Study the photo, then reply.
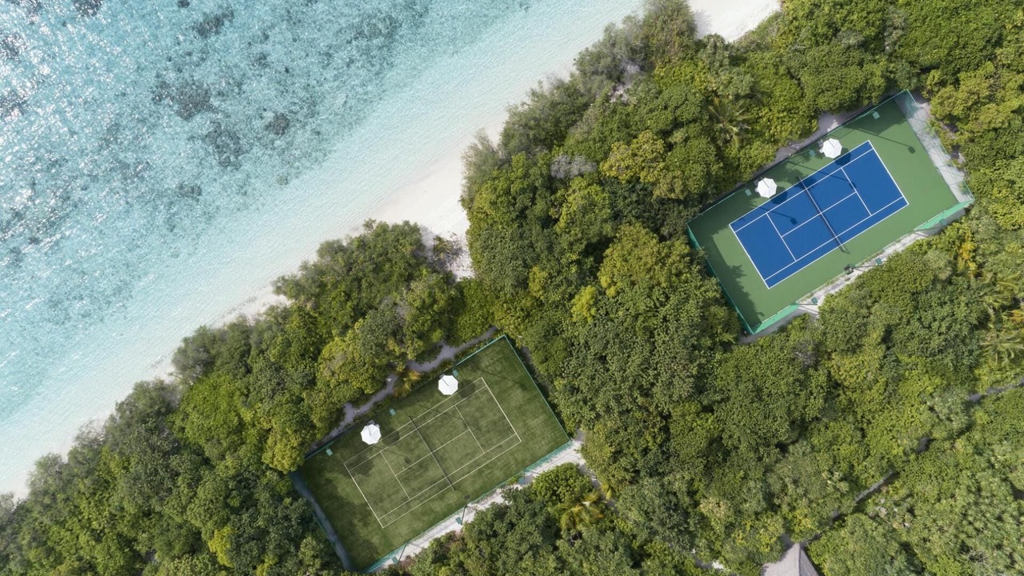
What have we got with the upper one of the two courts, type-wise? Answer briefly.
tennis court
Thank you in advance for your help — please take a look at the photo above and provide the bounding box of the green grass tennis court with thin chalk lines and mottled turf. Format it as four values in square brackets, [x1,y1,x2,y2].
[294,334,570,570]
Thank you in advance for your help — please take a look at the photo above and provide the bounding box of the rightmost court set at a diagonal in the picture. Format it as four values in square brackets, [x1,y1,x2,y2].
[683,98,959,332]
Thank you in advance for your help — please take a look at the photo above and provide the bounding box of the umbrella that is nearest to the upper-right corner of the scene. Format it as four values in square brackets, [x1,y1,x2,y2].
[812,137,842,159]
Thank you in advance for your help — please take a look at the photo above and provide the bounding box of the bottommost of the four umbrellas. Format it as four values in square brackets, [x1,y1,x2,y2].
[360,414,382,445]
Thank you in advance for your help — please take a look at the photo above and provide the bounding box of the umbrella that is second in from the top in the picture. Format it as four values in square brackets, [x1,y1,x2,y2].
[749,176,777,199]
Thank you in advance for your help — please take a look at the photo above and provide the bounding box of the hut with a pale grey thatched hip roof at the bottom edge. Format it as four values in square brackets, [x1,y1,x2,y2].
[740,540,817,576]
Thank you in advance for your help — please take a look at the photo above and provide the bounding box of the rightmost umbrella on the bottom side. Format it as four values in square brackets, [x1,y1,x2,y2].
[438,371,459,395]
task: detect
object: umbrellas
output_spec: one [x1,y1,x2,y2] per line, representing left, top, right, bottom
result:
[438,371,459,395]
[360,414,382,445]
[812,137,842,159]
[749,176,777,199]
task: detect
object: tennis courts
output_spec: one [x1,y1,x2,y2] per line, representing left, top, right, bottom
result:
[683,98,959,332]
[294,334,570,570]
